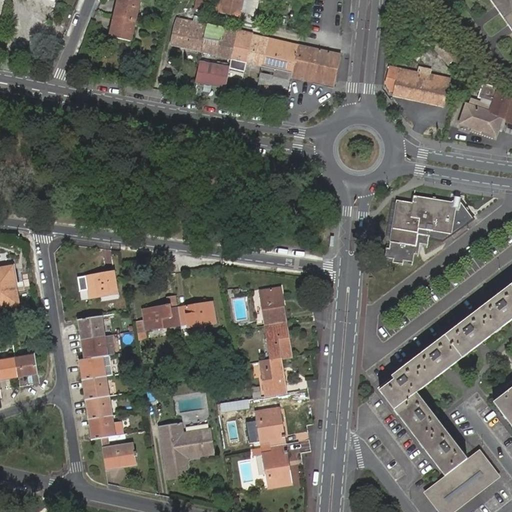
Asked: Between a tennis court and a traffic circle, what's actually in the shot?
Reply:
traffic circle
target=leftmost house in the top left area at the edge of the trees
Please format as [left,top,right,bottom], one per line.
[109,0,140,40]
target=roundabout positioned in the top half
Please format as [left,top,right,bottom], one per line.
[316,106,404,194]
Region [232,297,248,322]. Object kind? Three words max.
swimming pool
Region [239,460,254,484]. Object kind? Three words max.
swimming pool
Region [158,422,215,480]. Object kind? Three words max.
house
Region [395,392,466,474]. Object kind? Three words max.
building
